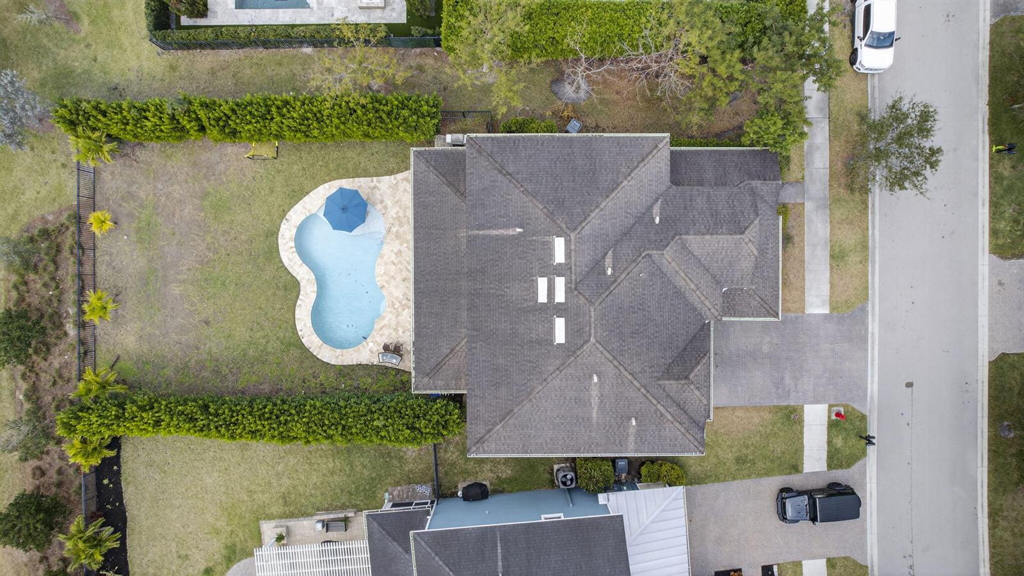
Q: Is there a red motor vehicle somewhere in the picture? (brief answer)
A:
No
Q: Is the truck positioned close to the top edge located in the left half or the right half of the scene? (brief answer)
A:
right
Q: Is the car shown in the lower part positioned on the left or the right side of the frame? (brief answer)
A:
right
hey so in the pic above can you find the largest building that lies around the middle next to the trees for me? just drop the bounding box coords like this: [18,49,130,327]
[410,132,784,458]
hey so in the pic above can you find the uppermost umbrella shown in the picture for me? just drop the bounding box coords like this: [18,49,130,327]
[324,187,368,233]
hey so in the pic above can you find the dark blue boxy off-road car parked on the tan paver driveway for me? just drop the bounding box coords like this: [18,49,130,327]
[776,481,862,526]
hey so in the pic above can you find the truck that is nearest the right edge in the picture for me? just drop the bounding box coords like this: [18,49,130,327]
[848,0,901,75]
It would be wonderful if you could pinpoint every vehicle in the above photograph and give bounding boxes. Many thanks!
[848,0,901,75]
[776,481,862,526]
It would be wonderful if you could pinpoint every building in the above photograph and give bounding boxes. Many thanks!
[410,132,784,458]
[363,481,692,576]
